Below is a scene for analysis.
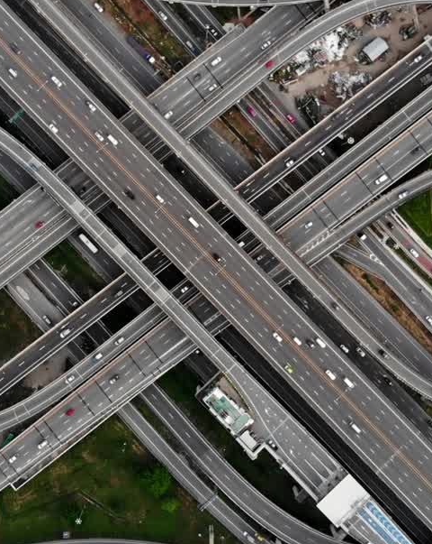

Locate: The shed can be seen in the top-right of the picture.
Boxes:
[362,36,388,62]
